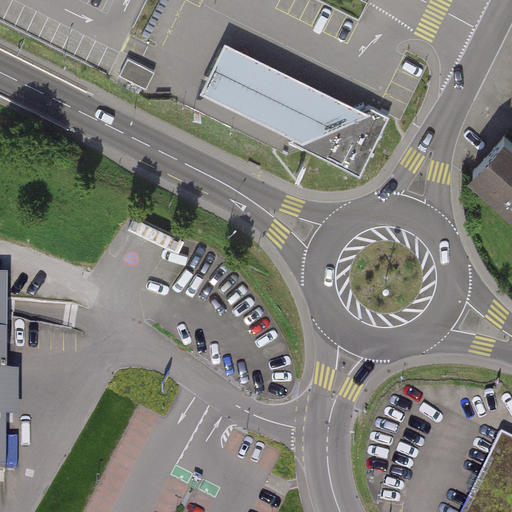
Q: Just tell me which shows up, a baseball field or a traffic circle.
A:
traffic circle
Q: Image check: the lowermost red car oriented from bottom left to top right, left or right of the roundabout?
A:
left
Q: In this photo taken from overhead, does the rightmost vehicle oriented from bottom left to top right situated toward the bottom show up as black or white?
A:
black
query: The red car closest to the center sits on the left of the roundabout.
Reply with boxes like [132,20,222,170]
[248,316,271,336]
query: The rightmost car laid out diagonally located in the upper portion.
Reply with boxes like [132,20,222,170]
[464,128,485,152]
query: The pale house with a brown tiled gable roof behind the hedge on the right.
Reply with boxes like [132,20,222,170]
[468,142,512,230]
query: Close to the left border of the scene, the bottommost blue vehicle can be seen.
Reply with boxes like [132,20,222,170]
[6,434,19,468]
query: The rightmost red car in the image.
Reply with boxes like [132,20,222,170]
[402,384,424,403]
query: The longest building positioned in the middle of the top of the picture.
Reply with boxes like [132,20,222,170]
[200,42,388,178]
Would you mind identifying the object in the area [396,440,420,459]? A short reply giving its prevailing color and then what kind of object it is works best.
white car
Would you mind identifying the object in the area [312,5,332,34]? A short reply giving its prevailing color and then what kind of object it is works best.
white vehicle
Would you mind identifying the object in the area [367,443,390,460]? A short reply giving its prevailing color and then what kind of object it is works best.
white vehicle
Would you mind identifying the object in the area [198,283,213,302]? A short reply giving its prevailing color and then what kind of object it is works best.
gray car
